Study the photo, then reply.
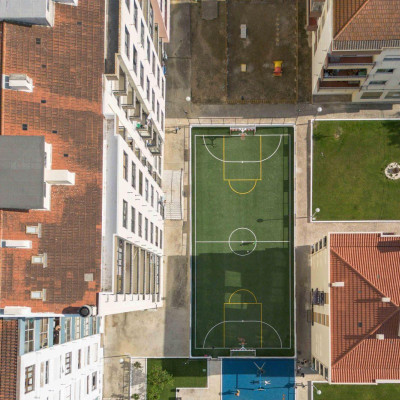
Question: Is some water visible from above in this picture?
No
